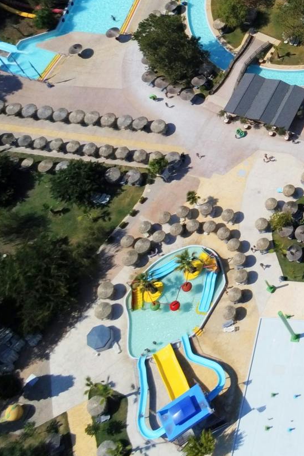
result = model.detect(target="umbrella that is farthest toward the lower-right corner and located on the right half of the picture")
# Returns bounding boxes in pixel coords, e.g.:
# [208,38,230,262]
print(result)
[222,304,239,322]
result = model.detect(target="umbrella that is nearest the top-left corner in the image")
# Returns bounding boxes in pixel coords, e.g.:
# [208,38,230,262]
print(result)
[68,43,85,56]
